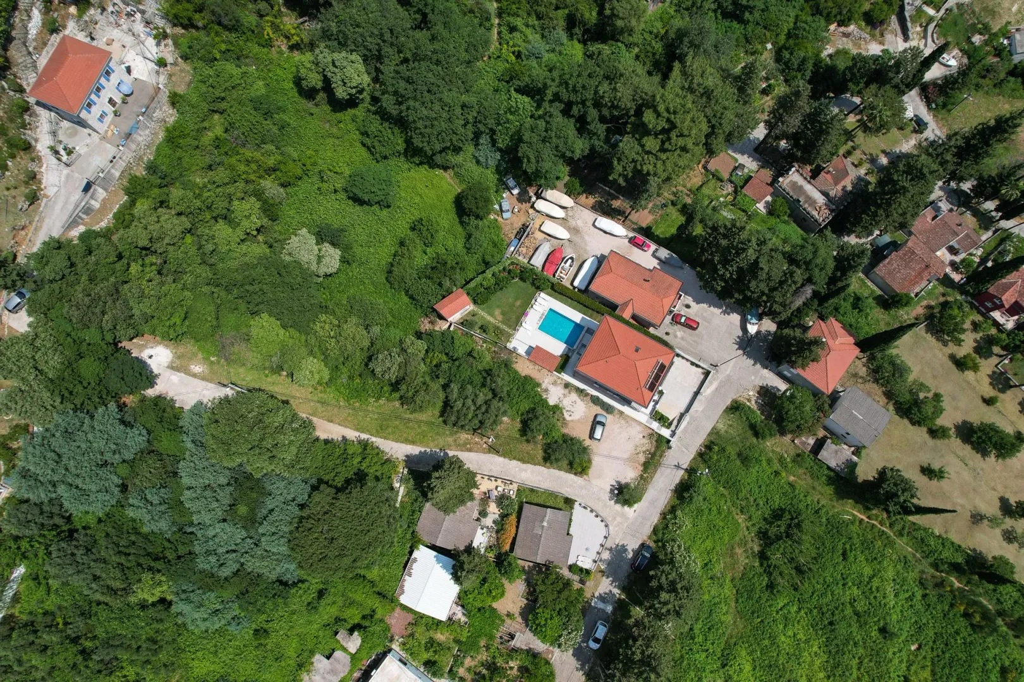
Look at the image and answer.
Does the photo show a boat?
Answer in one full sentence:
Yes, there is a boat in the image.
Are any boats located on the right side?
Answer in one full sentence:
Yes, looking on the right side, one can make out a boat.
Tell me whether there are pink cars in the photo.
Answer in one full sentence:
Yes, the photo shows a pink car.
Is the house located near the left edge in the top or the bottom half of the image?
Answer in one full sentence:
You can find the house located near the left edge in the top half.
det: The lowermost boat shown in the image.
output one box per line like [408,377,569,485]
[744,308,760,333]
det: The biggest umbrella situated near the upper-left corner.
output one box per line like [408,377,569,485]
[120,83,136,98]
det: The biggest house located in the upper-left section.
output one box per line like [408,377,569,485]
[27,34,131,131]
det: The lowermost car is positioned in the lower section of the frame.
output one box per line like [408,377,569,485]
[586,621,608,649]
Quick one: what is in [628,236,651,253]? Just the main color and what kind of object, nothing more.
pink car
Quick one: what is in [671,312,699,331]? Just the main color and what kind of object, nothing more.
red car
